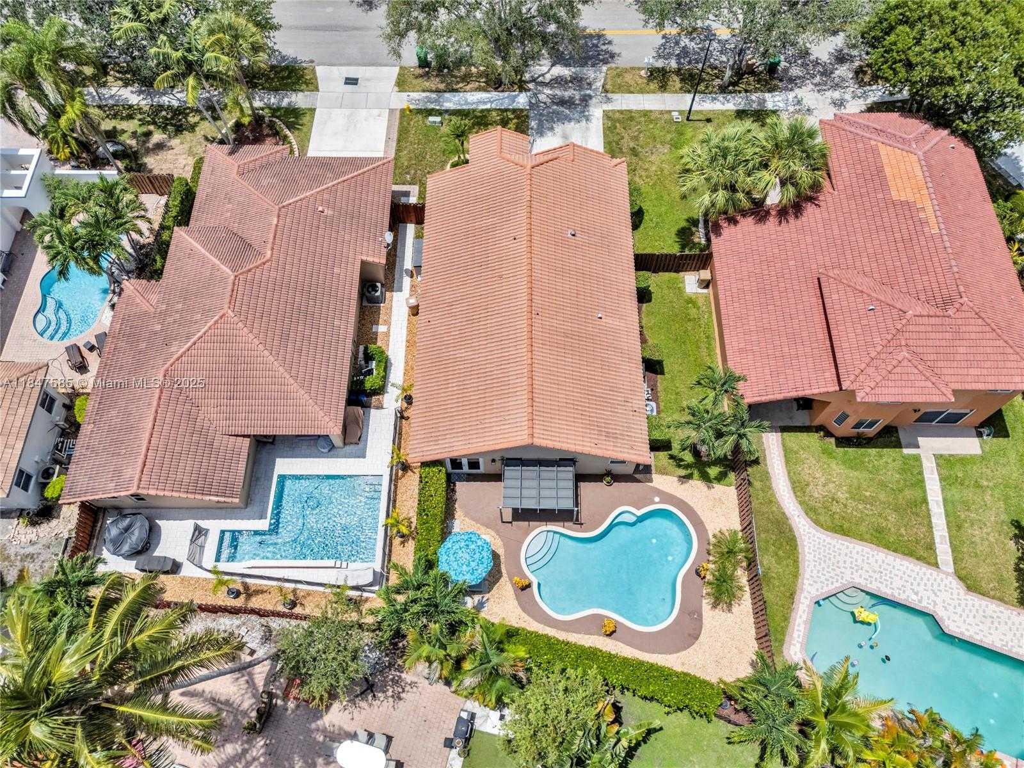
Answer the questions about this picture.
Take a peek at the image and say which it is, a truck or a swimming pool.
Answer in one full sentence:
The image shows a swimming pool.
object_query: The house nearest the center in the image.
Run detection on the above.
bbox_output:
[407,126,652,476]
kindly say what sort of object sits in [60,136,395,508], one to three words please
house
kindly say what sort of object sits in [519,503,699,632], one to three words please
swimming pool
